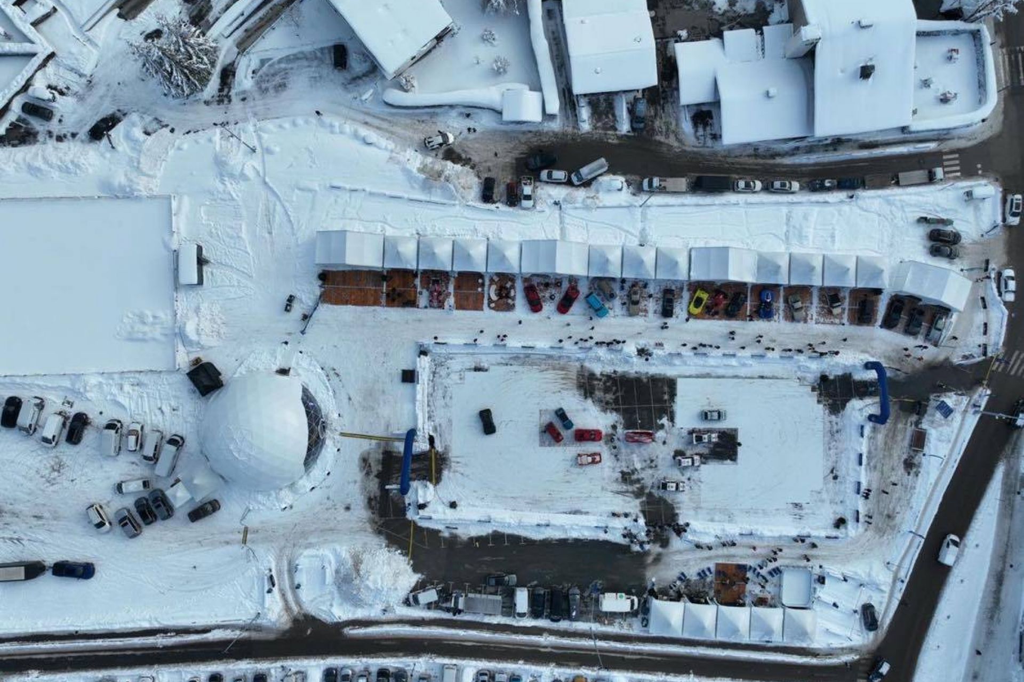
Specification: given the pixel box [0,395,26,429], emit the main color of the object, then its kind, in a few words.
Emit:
black car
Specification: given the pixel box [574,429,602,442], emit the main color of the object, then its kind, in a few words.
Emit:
red vehicle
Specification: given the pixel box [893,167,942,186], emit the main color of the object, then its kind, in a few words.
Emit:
gray vehicle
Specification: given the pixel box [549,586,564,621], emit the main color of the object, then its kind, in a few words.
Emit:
black vehicle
